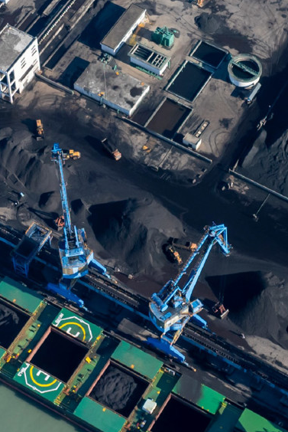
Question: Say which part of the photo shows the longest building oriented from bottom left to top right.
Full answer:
The longest building oriented from bottom left to top right appears toward the top of the photo.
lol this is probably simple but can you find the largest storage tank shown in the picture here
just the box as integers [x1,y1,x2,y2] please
[231,59,261,101]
